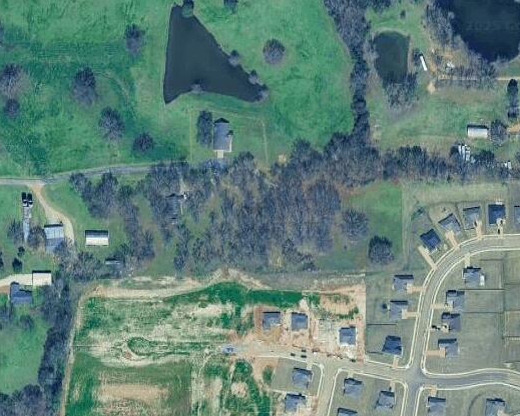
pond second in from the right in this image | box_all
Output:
[374,30,409,86]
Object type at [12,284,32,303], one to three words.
house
